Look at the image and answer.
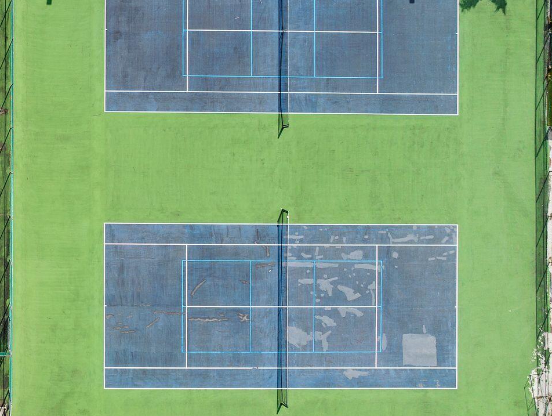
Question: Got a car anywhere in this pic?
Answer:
No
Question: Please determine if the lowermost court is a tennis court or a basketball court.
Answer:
tennis court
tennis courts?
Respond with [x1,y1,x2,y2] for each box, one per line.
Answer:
[104,223,458,389]
[104,0,458,115]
